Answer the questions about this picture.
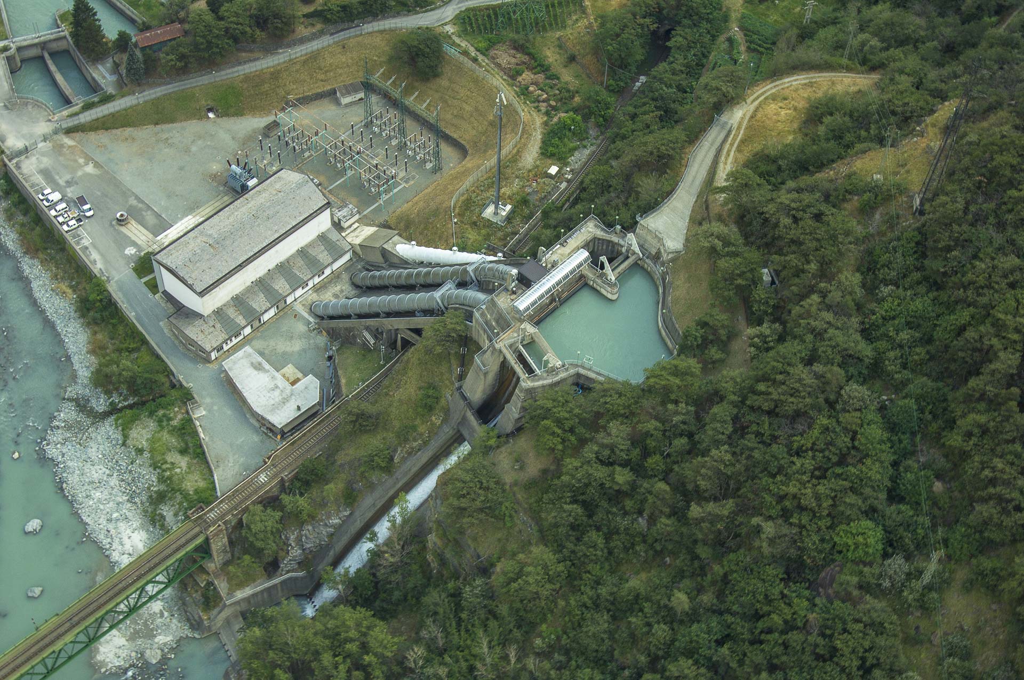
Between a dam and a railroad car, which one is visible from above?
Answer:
dam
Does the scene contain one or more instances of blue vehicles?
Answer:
No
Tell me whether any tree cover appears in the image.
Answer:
Yes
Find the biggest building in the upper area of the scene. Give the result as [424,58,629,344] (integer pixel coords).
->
[145,168,340,346]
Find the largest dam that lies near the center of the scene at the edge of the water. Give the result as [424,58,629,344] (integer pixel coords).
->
[455,213,683,443]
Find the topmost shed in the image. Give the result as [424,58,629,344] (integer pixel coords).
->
[135,22,182,48]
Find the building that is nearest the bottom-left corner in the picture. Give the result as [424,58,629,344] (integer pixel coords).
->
[222,346,320,438]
